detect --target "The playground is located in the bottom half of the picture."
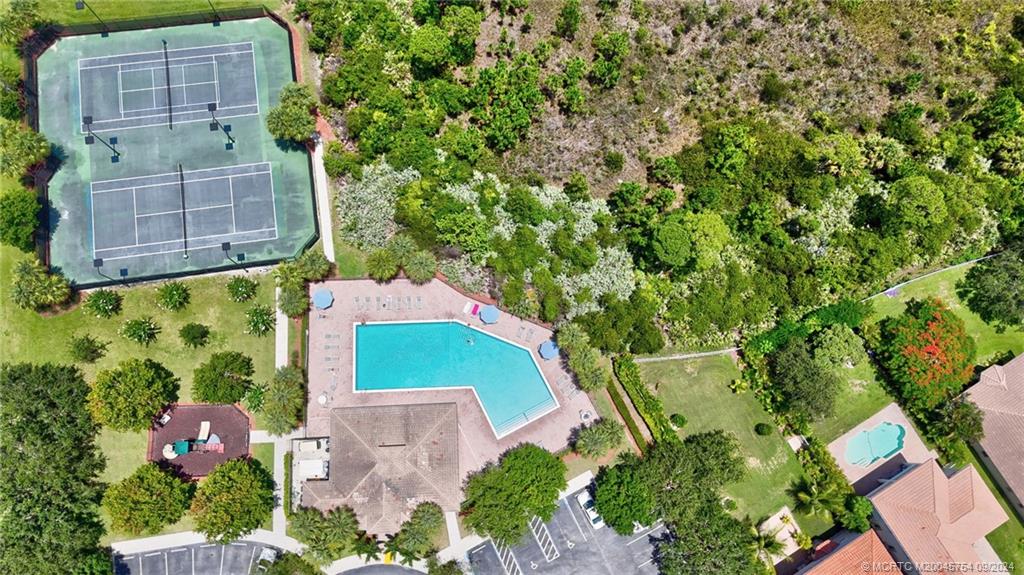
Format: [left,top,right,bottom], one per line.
[147,402,254,478]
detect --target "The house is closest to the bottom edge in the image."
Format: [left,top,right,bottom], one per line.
[795,529,903,575]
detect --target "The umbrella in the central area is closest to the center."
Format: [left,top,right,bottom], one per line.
[479,305,500,325]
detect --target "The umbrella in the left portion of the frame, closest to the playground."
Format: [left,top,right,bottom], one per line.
[312,288,333,309]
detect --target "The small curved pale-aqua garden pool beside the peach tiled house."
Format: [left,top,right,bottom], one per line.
[846,421,908,468]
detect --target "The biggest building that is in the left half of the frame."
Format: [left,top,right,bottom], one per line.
[302,403,461,538]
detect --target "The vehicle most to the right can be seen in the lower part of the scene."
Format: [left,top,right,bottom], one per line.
[576,491,605,529]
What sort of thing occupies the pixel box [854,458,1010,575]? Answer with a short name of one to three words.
house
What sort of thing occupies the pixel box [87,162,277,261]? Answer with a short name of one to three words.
tennis court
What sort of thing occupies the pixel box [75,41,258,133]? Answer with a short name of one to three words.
tennis court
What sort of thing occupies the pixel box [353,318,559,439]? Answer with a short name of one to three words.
swimming pool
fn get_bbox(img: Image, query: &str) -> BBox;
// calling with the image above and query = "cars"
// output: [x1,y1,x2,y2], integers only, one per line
[250,546,272,575]
[576,491,605,529]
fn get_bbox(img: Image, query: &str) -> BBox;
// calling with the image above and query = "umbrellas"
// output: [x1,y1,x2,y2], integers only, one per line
[539,340,559,361]
[312,288,333,309]
[479,305,500,325]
